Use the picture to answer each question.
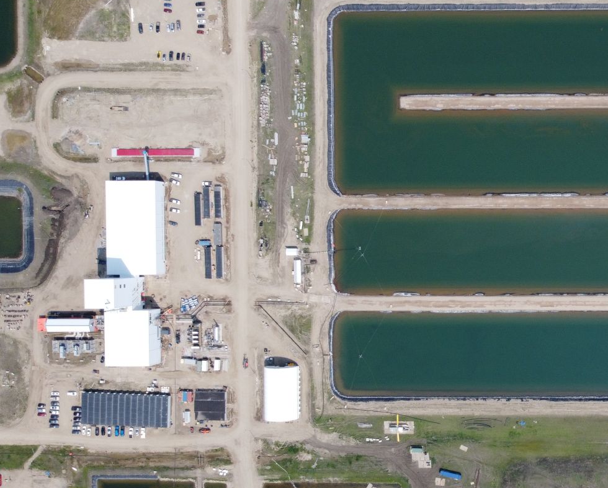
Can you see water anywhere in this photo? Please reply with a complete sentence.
Yes, water shows up in the scene.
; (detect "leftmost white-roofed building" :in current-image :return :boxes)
[44,318,99,332]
